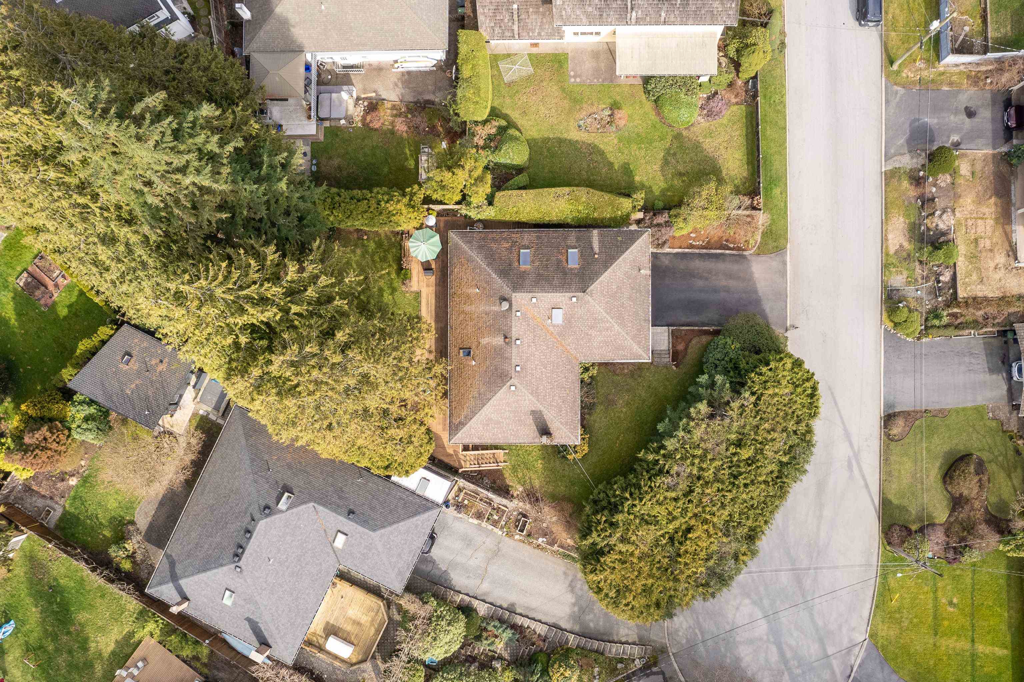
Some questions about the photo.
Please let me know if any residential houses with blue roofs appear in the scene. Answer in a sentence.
No, there's no residential house with a blue roof here.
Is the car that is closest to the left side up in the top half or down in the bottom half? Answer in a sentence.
The car that is closest to the left side sits in the bottom half of the picture.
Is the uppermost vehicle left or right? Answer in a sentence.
The uppermost vehicle sits on the right side.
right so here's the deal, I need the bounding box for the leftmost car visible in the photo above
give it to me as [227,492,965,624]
[421,532,443,558]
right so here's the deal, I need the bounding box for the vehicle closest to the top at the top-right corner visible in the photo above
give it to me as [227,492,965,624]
[856,0,890,26]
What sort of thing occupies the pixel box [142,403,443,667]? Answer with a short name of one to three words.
house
